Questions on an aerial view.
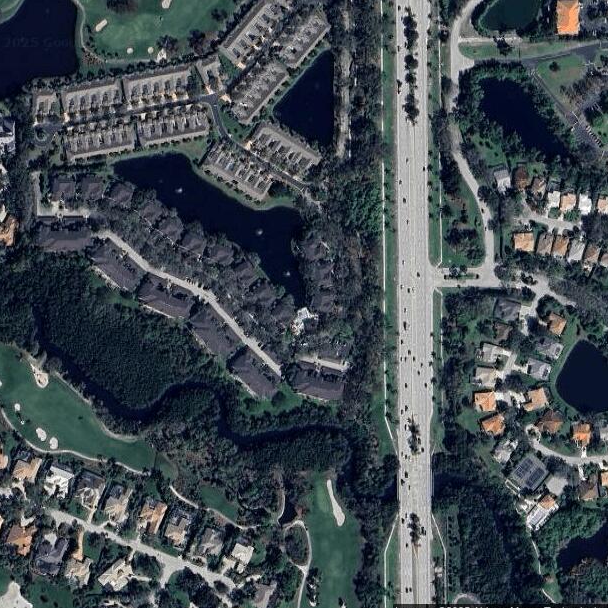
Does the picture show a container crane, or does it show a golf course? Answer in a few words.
golf course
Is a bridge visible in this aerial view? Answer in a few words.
Yes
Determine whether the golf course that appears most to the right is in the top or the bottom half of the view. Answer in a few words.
bottom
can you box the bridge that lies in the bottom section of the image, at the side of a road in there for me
[397,455,434,508]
